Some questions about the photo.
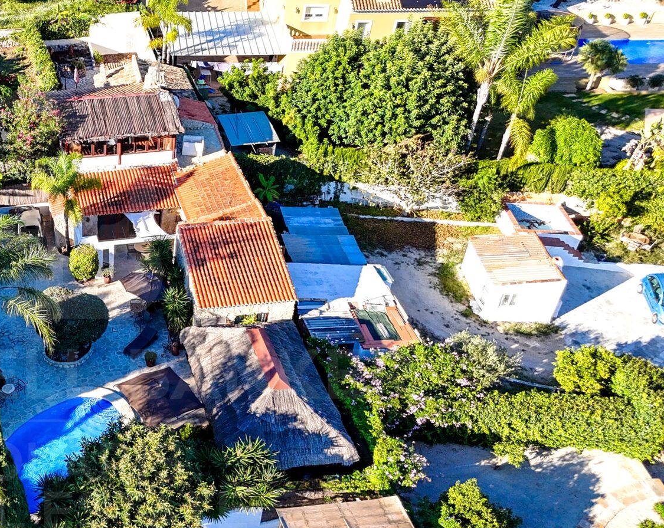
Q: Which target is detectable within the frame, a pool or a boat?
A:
pool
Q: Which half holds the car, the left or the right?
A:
right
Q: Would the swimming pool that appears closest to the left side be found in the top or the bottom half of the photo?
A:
bottom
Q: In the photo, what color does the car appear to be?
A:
blue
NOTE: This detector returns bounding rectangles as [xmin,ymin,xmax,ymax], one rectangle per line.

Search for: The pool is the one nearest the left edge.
[6,387,131,525]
